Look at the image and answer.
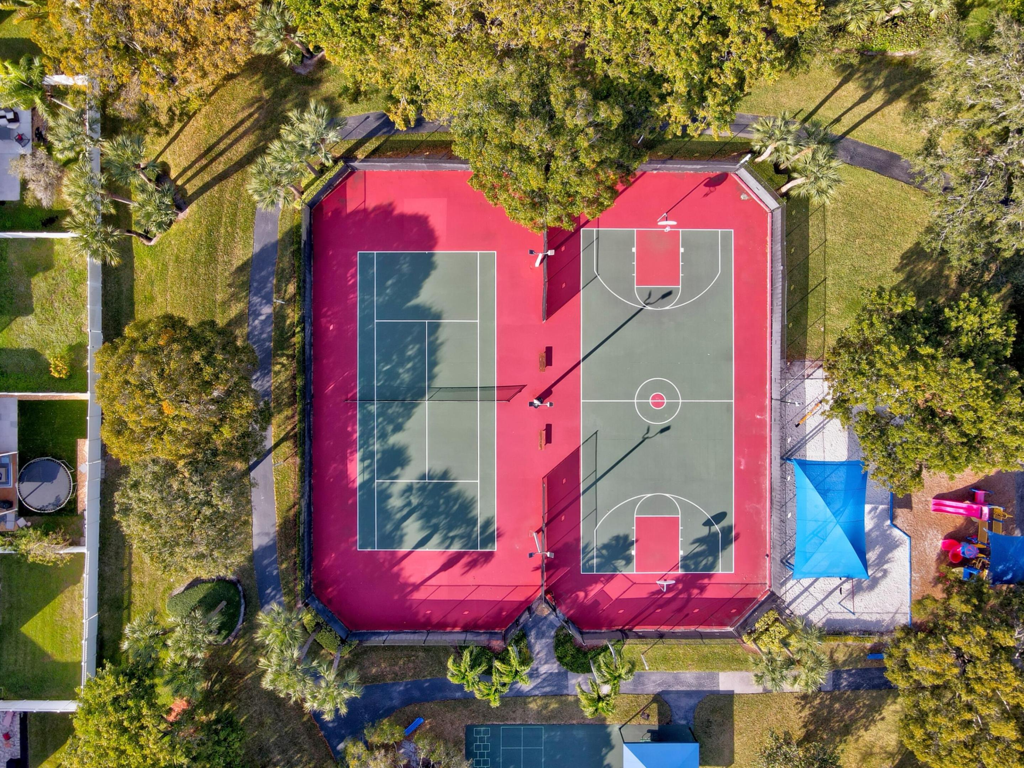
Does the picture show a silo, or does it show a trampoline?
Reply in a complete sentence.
I can see a trampoline in this picture.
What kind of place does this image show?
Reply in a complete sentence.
The area seen from above is a sports ground.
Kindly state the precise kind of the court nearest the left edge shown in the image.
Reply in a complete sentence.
The court nearest the left edge is a tennis court.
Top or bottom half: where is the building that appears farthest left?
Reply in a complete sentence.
Seen from above, the building that appears farthest left lies in the bottom half of the view.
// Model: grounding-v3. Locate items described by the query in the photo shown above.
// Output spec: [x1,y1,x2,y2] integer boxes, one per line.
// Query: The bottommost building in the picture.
[617,727,700,768]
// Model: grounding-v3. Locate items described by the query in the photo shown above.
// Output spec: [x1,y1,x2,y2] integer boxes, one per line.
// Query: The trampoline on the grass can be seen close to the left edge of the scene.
[18,453,83,514]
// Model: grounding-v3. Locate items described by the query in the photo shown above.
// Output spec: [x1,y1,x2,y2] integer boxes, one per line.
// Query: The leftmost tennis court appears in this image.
[312,170,544,631]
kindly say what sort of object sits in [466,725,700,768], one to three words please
sports court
